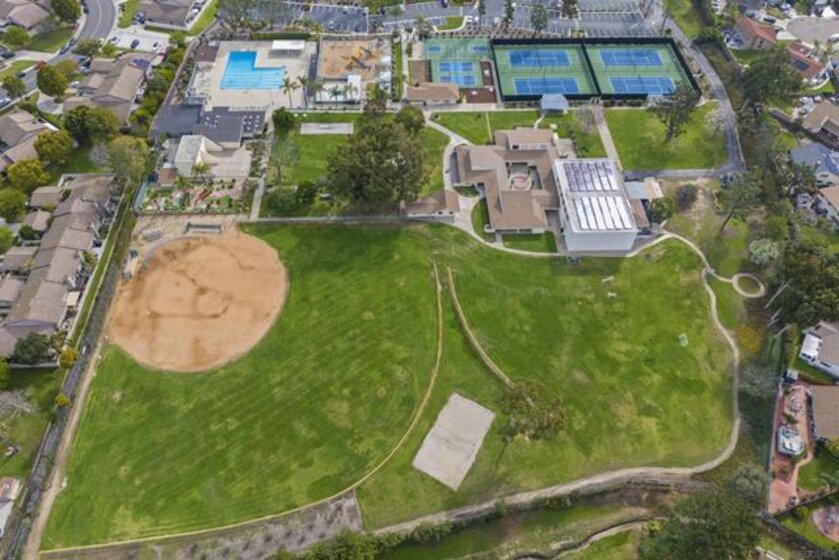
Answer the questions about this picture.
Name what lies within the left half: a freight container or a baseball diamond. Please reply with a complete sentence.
You can see a baseball diamond within the left half.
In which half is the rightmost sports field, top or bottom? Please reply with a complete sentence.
You can find the rightmost sports field in the bottom half.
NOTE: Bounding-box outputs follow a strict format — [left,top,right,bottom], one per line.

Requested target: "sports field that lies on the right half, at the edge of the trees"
[359,221,734,534]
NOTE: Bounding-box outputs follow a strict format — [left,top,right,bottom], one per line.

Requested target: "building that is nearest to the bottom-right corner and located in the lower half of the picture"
[800,384,839,441]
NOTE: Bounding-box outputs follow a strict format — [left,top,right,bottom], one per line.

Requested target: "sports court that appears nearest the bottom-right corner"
[413,394,495,490]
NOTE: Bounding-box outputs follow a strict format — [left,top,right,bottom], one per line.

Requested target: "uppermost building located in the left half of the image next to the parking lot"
[134,0,202,33]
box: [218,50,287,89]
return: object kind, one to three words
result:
swimming pool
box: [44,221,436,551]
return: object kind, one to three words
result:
baseball field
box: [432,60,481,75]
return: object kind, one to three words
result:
sports court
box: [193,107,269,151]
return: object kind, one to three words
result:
building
